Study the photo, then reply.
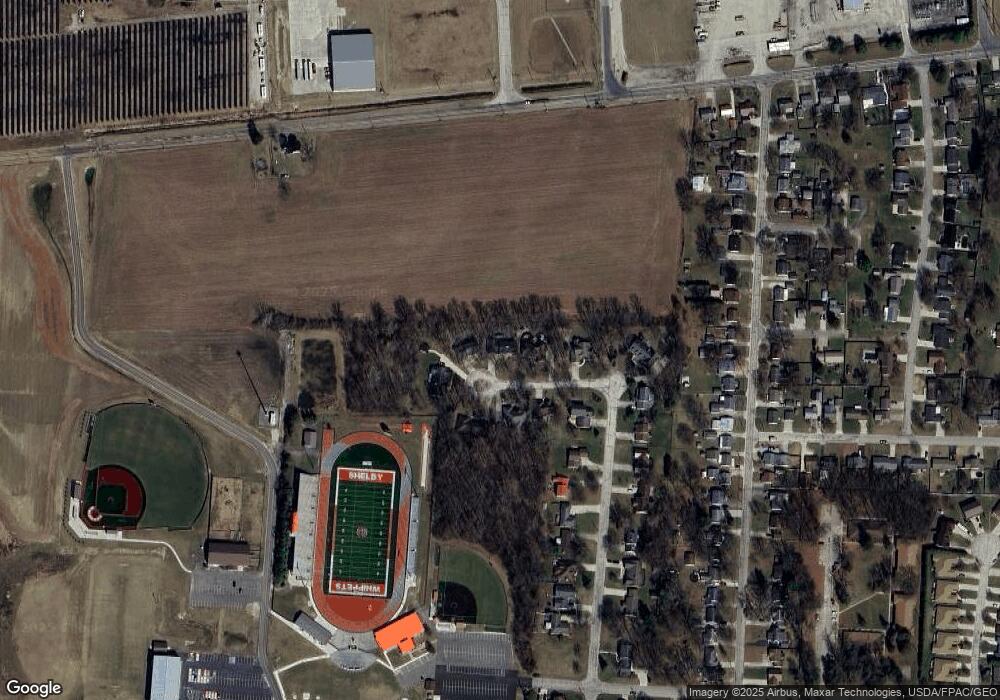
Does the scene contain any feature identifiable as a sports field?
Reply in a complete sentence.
Yes, the picture does show a sports field.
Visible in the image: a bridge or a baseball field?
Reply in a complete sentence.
It is a baseball field that can be seen here.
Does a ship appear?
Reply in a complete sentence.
No, I find no ship anywhere in the image.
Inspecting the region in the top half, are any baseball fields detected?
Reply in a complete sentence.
No, the scene shows no baseball field in the top half.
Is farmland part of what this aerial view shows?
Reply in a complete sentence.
Yes, some farmland is visible.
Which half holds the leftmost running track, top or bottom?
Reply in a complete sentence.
You can find the leftmost running track in the bottom half.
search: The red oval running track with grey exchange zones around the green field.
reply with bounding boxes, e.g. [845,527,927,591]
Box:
[312,429,411,633]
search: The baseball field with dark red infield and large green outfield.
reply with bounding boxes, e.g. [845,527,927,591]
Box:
[82,403,209,529]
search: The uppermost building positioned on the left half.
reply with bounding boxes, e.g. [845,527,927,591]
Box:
[332,33,375,92]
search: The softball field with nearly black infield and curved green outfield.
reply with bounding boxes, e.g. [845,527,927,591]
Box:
[439,547,506,632]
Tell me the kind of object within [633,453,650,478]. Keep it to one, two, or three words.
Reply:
house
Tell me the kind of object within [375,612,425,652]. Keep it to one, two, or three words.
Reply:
building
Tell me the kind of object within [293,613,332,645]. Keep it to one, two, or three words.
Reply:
building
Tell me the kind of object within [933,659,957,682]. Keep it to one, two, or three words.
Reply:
house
